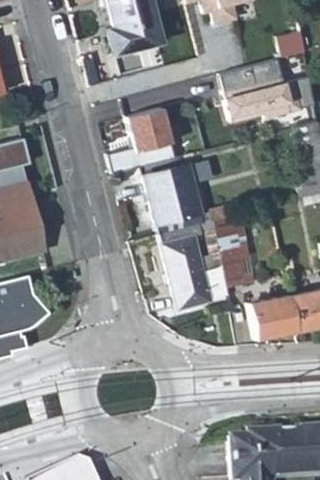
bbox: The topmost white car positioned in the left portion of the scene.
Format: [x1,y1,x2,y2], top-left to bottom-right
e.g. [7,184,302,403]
[52,14,69,40]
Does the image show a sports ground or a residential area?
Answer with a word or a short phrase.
residential area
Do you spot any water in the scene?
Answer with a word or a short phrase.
No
